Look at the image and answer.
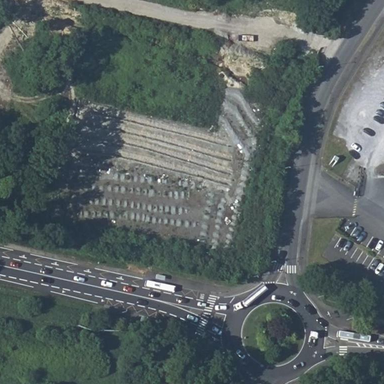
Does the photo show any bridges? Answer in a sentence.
No, the frame has no bridge in it.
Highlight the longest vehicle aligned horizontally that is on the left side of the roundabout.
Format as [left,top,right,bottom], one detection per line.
[145,279,176,292]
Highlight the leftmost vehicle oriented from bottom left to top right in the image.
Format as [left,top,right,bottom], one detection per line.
[234,284,268,312]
